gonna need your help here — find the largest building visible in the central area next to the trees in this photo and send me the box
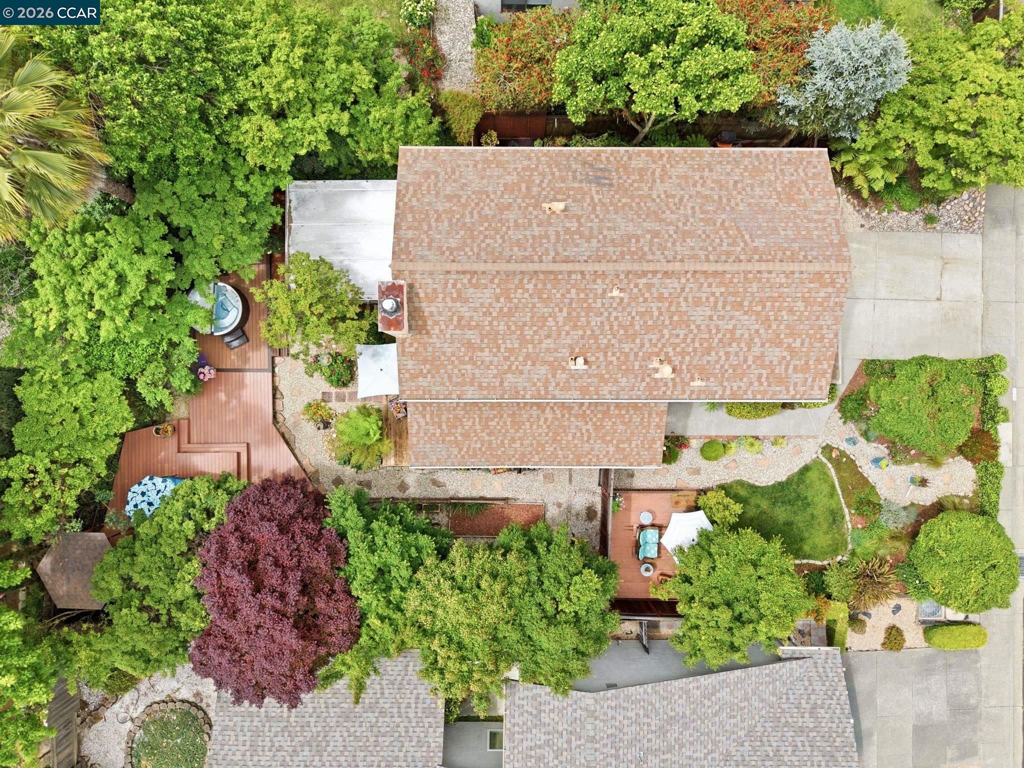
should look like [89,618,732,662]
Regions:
[378,146,855,471]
